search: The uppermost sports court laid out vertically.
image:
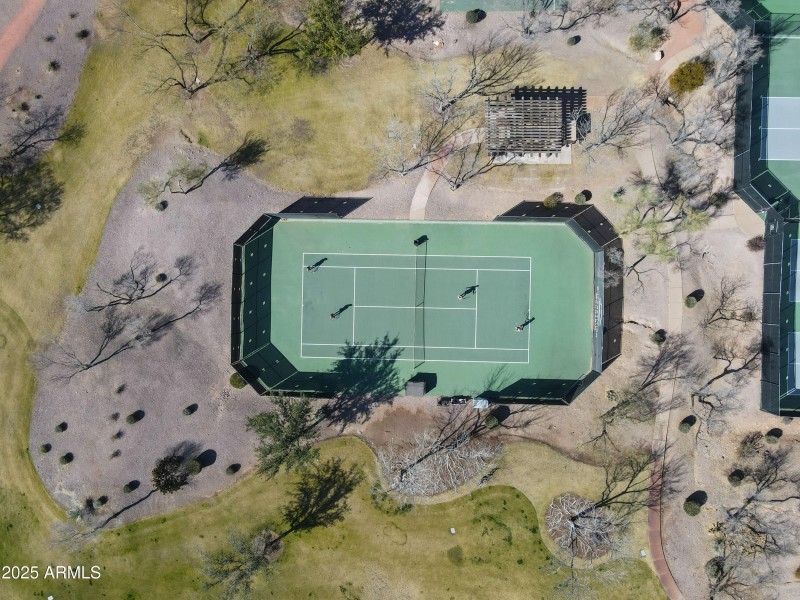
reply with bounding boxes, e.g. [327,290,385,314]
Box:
[737,36,800,223]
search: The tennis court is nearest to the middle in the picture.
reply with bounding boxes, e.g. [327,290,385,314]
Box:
[242,218,594,399]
